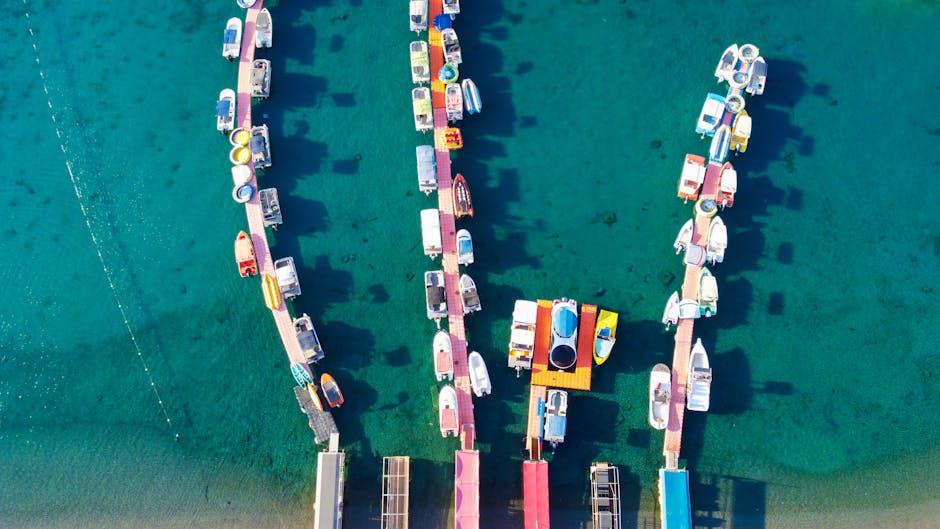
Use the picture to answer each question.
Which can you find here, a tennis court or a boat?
boat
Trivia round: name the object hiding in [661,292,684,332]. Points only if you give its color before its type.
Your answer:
white boat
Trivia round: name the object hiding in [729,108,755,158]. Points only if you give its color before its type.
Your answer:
white boat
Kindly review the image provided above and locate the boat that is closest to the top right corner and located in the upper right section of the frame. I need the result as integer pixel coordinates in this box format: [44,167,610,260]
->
[744,55,770,104]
